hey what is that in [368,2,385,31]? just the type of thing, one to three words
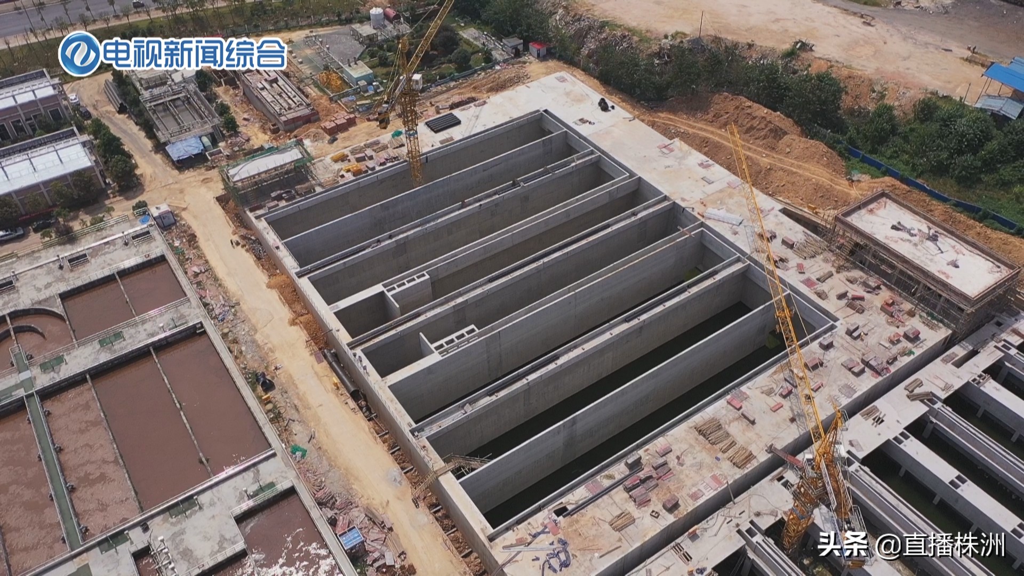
silo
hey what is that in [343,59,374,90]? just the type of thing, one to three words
house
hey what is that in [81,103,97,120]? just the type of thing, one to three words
car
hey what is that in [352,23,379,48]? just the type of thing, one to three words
shed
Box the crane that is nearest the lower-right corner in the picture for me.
[727,121,879,576]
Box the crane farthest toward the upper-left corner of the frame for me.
[373,0,453,191]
